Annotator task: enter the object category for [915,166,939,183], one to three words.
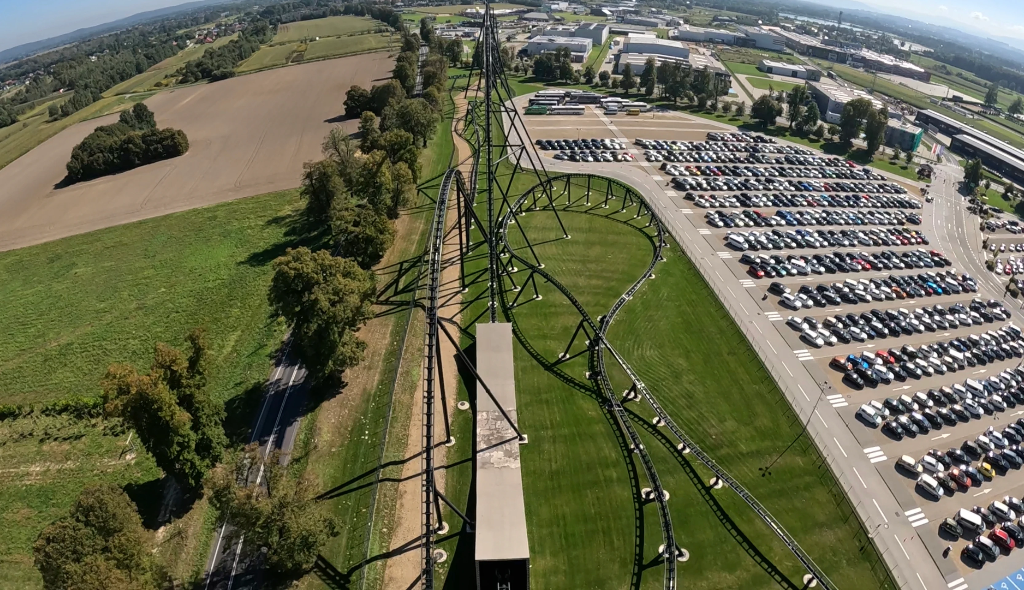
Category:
gazebo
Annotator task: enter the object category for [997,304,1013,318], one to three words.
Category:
car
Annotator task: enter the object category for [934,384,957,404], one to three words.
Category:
car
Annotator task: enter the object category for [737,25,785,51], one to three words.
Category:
building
